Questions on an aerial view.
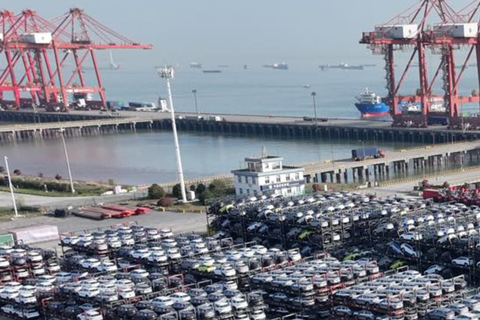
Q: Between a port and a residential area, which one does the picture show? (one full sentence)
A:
This looks like a port.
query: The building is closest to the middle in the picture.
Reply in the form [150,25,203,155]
[229,143,305,194]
